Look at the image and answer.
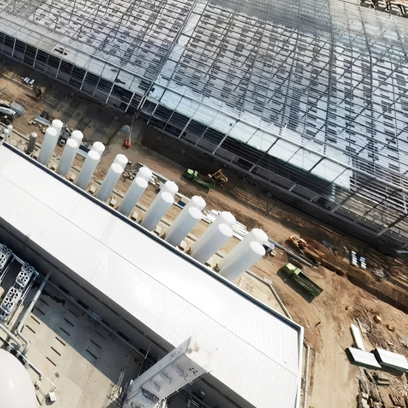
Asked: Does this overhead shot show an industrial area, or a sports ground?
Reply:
industrial area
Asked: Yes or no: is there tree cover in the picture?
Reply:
No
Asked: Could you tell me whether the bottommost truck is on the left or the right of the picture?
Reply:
right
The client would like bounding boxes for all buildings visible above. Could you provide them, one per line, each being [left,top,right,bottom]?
[0,141,304,408]
[0,0,408,257]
